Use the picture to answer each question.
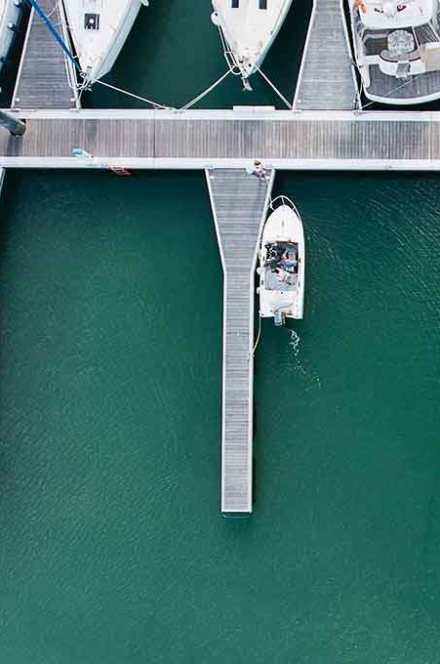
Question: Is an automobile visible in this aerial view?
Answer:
No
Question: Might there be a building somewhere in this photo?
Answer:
No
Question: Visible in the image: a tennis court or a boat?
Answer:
boat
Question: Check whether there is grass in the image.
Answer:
No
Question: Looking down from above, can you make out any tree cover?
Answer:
No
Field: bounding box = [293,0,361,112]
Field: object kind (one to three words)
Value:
pier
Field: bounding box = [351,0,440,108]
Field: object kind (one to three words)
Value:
boat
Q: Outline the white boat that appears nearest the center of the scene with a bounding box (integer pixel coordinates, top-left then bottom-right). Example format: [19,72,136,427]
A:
[259,195,306,323]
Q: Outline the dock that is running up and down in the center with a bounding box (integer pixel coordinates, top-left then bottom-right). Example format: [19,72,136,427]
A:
[206,169,274,519]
